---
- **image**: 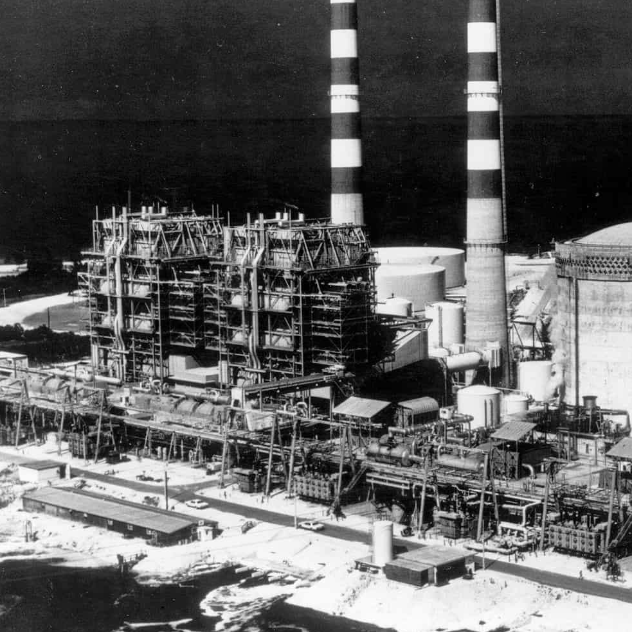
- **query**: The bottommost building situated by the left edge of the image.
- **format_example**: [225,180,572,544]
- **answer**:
[13,482,208,544]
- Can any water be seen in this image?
Yes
